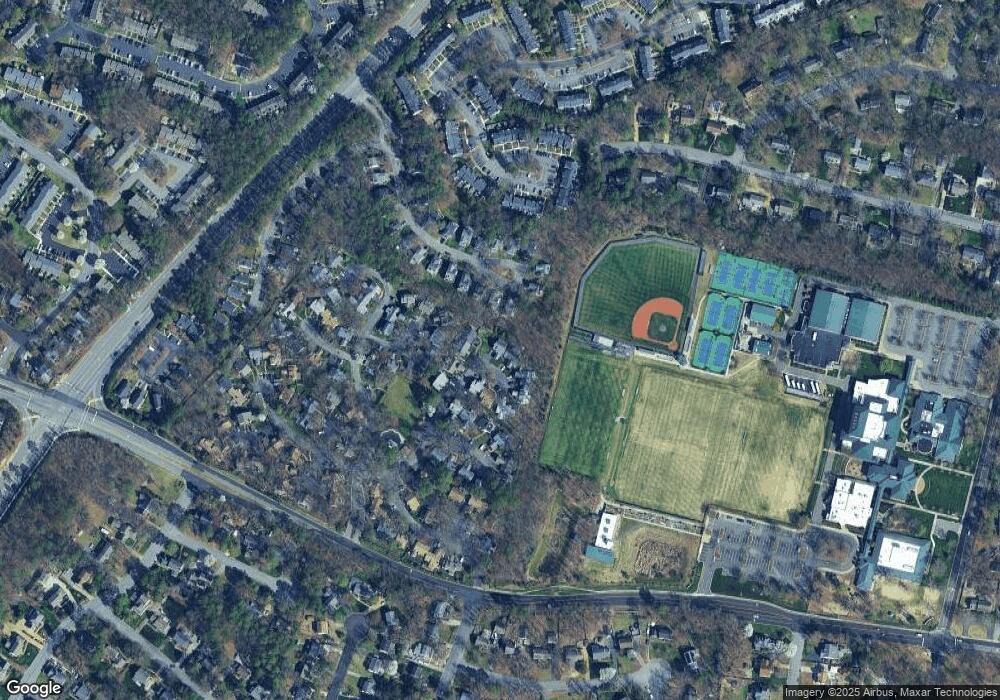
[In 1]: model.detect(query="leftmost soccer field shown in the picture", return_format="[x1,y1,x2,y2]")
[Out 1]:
[539,341,634,479]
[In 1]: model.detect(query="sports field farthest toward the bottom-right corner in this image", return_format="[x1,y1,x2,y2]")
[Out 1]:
[608,366,822,527]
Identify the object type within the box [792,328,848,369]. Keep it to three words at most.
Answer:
building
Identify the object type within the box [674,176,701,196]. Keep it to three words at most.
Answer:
house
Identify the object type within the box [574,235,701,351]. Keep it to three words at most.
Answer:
baseball field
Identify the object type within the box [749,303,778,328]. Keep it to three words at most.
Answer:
building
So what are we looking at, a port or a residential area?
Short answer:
residential area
